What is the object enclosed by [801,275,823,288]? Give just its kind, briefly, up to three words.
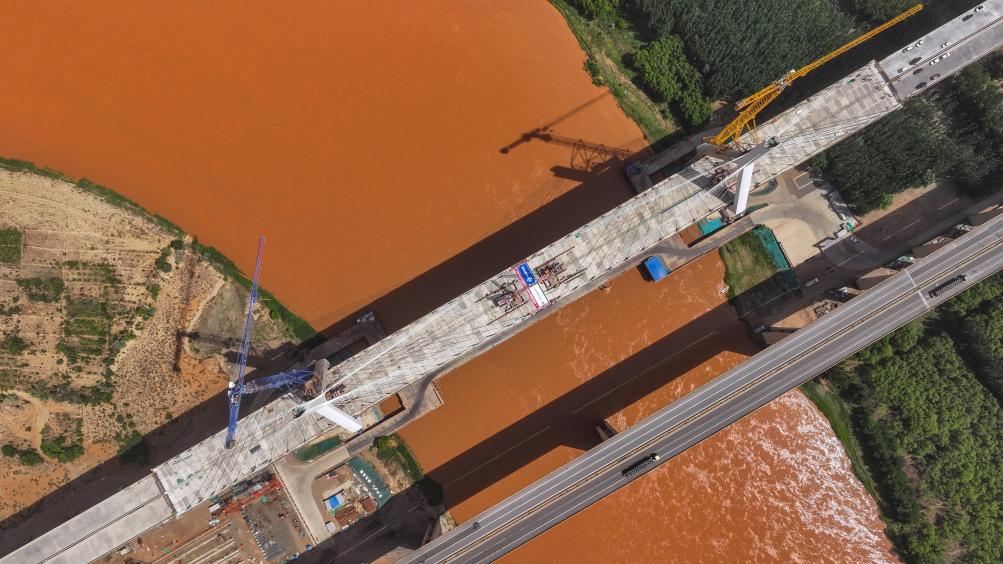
vehicle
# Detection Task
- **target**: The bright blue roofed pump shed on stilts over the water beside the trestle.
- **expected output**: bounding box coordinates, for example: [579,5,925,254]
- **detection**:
[642,254,673,285]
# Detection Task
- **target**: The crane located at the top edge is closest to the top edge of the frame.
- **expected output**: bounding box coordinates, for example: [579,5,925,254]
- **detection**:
[682,5,924,168]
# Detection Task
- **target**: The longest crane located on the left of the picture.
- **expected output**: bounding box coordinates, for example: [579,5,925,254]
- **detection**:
[223,237,346,448]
